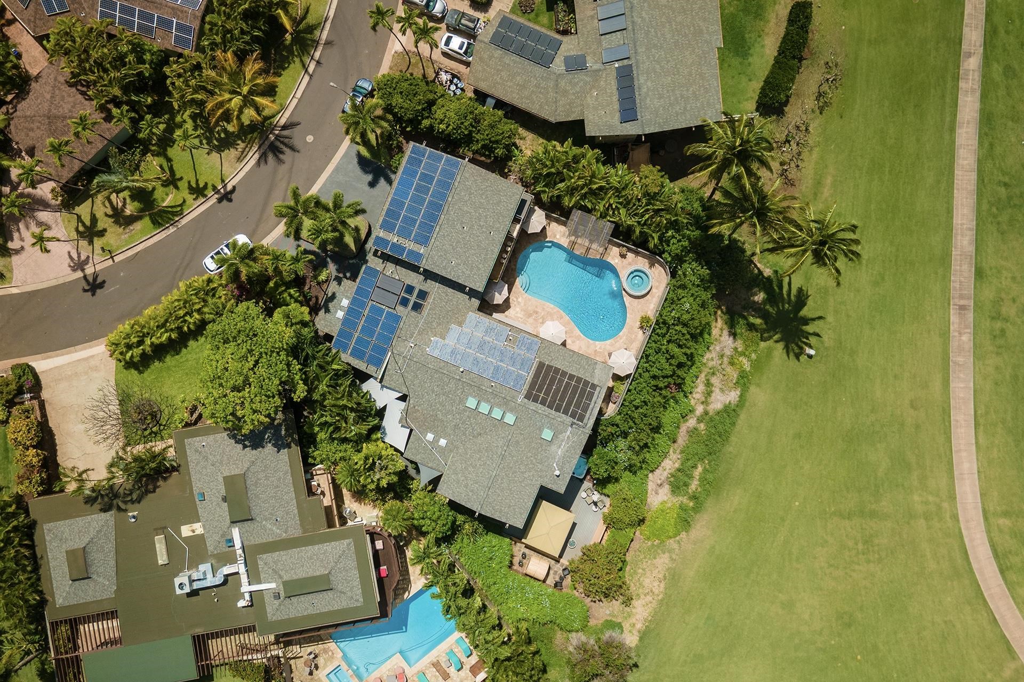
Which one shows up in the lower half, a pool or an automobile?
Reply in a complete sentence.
Visible in the lower half is a pool.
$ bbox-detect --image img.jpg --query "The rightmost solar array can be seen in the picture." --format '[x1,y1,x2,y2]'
[427,314,540,387]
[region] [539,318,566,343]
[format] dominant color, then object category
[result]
white umbrella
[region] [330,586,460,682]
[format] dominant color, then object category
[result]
blue swimming pool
